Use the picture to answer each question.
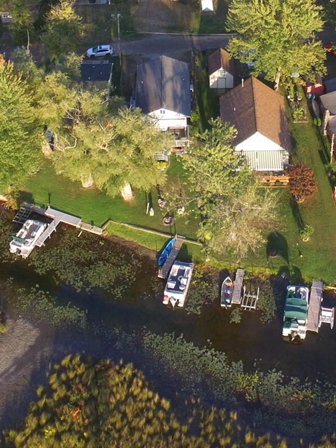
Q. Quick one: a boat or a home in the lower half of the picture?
boat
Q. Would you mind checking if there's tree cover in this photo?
Yes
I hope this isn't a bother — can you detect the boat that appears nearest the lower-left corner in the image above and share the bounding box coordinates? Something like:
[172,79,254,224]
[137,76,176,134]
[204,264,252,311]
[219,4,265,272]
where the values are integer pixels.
[9,220,45,257]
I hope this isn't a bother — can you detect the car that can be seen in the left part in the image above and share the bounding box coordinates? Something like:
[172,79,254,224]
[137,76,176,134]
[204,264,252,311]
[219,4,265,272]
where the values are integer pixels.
[87,42,114,58]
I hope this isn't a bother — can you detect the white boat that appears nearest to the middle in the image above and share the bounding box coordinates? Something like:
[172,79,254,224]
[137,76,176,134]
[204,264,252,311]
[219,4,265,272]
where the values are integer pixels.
[163,260,194,305]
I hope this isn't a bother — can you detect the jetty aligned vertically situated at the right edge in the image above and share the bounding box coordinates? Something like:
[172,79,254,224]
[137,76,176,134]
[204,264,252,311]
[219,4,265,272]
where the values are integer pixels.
[305,281,323,338]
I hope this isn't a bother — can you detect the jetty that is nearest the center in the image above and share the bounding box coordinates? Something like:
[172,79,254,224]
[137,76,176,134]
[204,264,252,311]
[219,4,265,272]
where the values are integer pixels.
[158,238,185,277]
